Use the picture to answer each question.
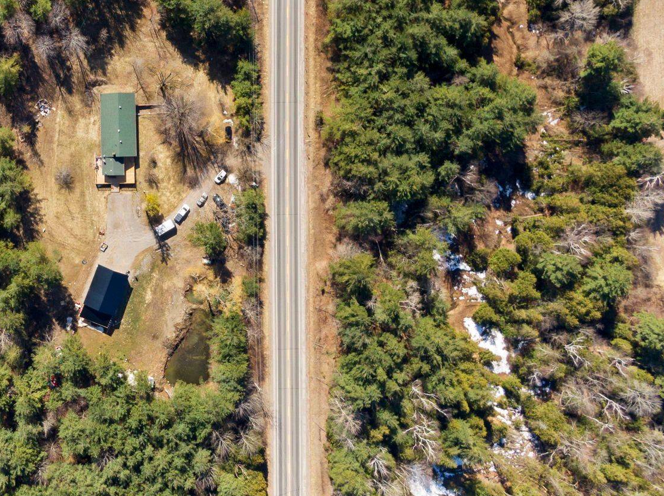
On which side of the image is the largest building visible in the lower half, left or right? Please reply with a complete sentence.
The largest building visible in the lower half sits on the left side.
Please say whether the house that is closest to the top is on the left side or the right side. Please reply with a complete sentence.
The house that is closest to the top appears in the left half of the scene.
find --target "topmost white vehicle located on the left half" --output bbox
[214,169,227,183]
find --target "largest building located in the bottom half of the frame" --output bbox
[77,265,128,332]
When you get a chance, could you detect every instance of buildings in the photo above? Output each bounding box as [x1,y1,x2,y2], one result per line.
[98,92,165,190]
[77,265,128,332]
